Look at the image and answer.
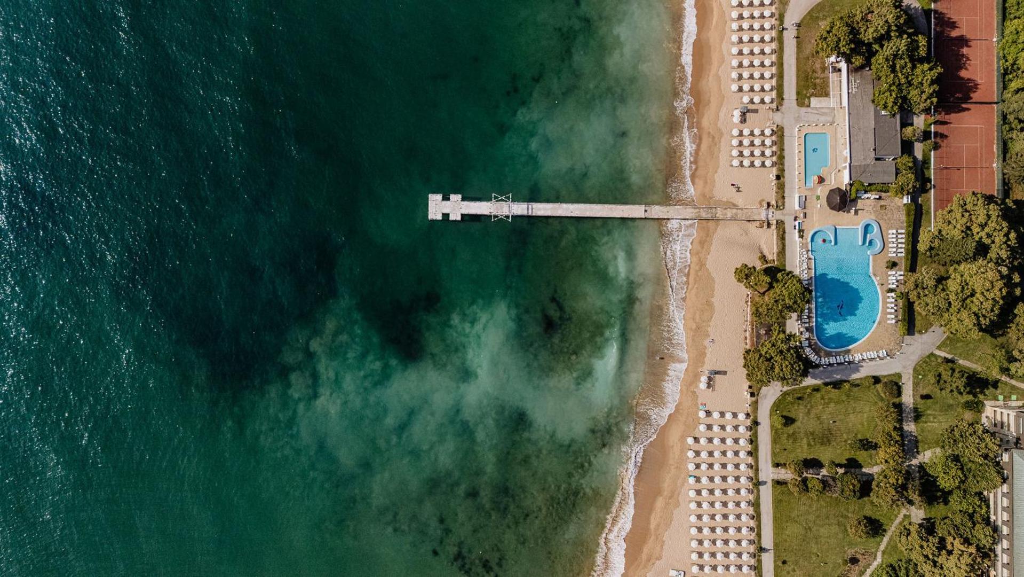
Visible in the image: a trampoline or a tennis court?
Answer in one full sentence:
I can see a tennis court in this picture.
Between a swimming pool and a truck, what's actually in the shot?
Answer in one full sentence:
Looking from above, you can make out a swimming pool.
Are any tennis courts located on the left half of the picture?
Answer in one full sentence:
No, there's no tennis court to be seen on the left half of the picture.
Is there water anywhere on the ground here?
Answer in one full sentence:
Yes, water can be seen from above here.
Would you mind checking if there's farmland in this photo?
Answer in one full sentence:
No, the picture contains no farmland.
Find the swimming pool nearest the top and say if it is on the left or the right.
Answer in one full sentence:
The swimming pool nearest the top appears in the right half of the scene.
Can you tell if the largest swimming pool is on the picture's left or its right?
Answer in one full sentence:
You can find the largest swimming pool on the right side of the picture.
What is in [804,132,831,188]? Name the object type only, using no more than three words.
swimming pool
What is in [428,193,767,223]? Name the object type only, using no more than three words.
pier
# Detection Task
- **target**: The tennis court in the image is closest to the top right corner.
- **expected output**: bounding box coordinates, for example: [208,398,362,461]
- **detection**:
[934,0,996,102]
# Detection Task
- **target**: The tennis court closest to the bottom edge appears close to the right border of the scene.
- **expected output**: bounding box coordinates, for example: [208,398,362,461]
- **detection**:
[934,103,996,235]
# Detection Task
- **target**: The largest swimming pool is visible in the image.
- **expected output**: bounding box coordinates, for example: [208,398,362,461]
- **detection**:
[810,225,882,350]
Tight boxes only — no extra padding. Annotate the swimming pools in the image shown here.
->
[804,132,831,188]
[810,225,882,350]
